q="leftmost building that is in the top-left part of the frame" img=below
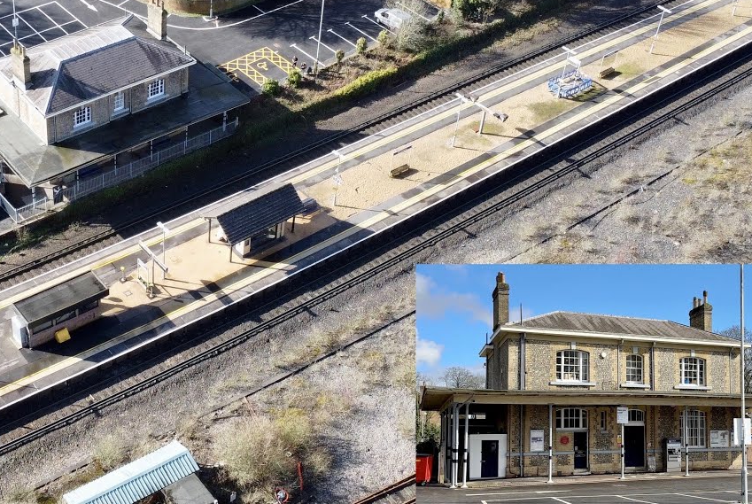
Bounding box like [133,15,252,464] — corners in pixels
[0,0,253,208]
